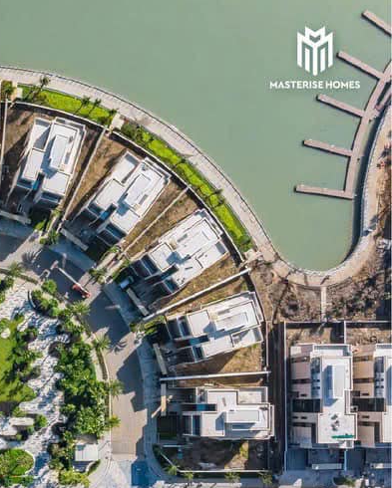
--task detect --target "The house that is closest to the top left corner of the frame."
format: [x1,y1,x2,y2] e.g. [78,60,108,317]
[8,115,88,211]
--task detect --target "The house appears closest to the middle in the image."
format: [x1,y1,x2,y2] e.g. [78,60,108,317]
[123,209,225,300]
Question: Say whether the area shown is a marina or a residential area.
residential area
